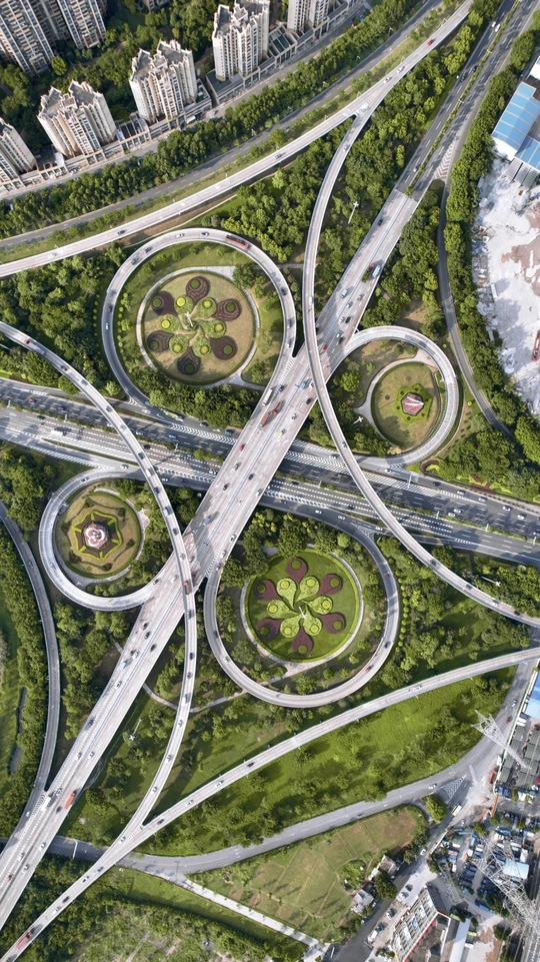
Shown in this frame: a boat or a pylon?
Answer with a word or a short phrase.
pylon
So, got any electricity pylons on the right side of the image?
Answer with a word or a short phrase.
Yes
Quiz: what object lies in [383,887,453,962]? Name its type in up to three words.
building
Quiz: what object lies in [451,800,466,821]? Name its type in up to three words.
vehicle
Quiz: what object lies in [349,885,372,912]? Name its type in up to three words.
house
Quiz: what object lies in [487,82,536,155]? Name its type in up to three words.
building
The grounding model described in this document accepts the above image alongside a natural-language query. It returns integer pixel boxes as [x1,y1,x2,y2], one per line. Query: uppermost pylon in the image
[469,709,528,770]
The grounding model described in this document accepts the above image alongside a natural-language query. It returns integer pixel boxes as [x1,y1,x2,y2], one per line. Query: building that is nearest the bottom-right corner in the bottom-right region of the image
[441,914,471,962]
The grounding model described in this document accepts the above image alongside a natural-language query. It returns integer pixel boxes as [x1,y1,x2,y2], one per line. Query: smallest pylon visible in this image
[424,850,458,906]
